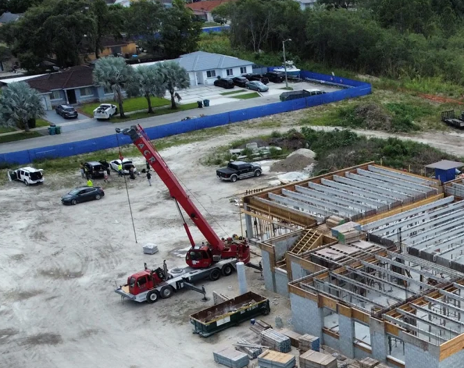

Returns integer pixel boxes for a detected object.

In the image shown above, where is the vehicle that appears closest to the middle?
[210,160,265,181]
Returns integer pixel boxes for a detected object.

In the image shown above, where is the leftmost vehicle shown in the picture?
[7,161,46,183]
